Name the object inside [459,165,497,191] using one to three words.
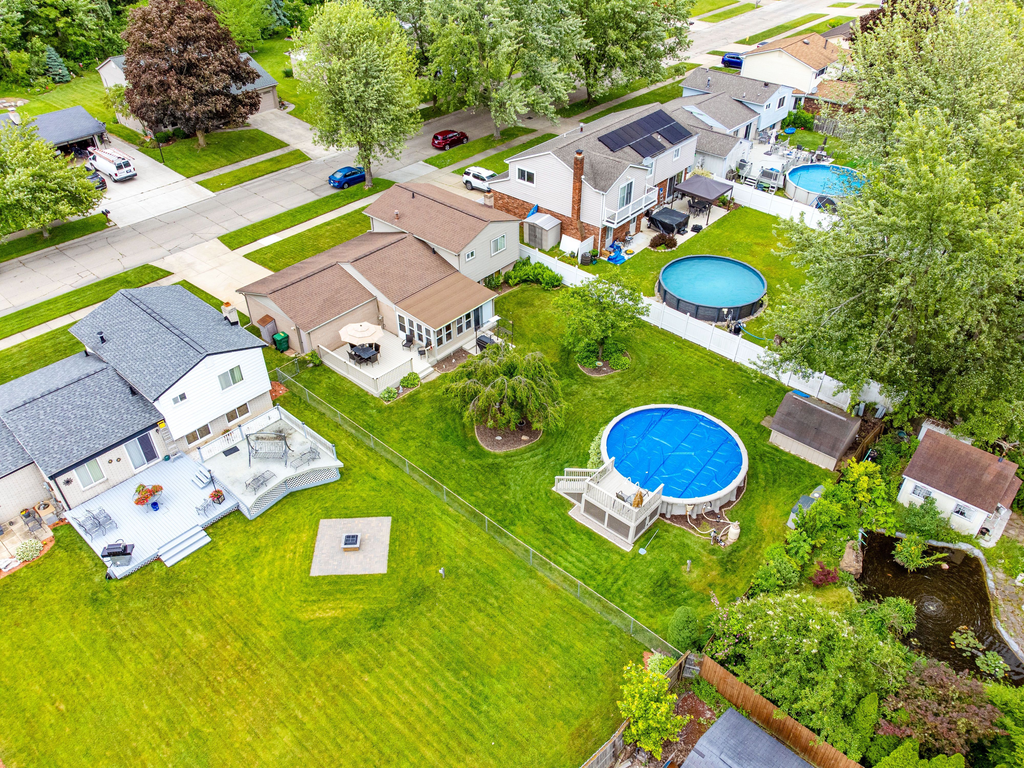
car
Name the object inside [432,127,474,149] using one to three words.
car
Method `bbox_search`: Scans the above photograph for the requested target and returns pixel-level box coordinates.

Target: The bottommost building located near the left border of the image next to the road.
[0,285,275,523]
